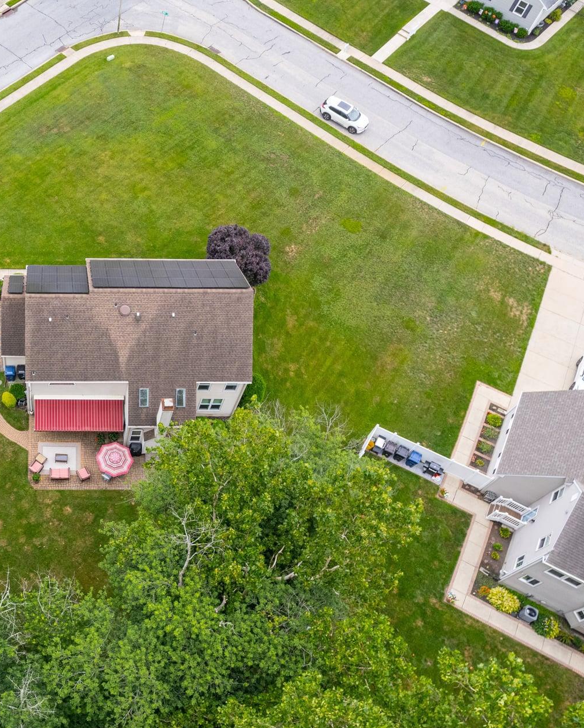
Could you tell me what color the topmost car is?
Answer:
white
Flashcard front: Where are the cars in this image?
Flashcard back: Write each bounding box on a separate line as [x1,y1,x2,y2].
[320,93,372,135]
[568,352,584,390]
